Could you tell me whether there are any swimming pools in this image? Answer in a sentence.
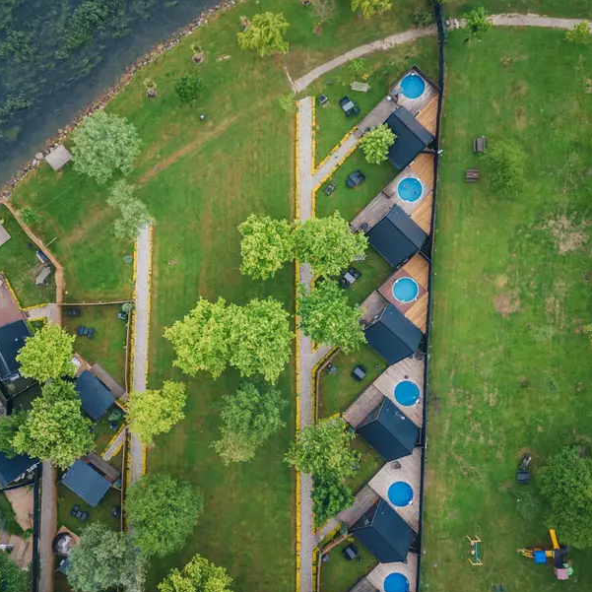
Yes, there's a swimming pool down there.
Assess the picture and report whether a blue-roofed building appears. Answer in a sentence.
Yes, the picture does show a blue-roofed building.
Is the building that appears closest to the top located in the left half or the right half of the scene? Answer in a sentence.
The building that appears closest to the top sits on the right side.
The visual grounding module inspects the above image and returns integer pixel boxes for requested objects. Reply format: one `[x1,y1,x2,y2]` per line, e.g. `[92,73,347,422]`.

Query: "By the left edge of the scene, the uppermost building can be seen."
[0,319,30,380]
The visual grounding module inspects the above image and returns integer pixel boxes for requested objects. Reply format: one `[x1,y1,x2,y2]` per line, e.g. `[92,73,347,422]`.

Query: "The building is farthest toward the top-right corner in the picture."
[378,106,435,169]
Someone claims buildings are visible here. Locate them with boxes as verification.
[378,106,435,169]
[350,499,416,563]
[0,319,30,380]
[62,456,112,508]
[55,557,90,592]
[359,302,423,365]
[366,205,428,267]
[0,450,38,487]
[354,398,420,461]
[66,370,117,420]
